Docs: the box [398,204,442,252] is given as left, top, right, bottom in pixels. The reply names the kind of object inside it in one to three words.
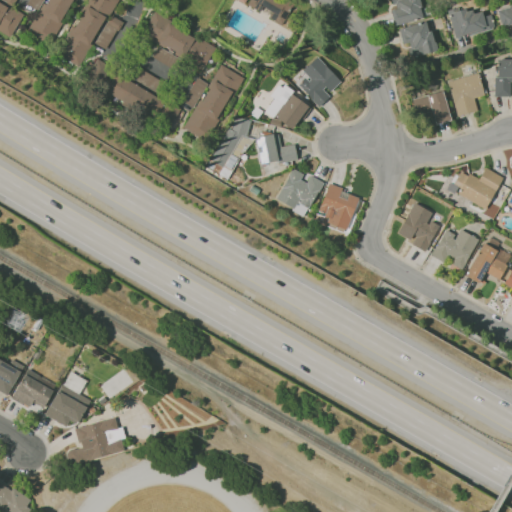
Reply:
house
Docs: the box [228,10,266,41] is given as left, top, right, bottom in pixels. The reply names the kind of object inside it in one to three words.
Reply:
swimming pool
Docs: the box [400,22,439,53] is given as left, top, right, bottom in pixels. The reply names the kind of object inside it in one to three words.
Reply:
house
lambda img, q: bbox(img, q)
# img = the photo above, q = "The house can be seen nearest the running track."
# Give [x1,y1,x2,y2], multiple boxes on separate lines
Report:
[69,418,126,462]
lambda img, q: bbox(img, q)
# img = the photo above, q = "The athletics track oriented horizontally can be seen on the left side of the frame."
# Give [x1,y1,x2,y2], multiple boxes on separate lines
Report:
[78,461,261,512]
